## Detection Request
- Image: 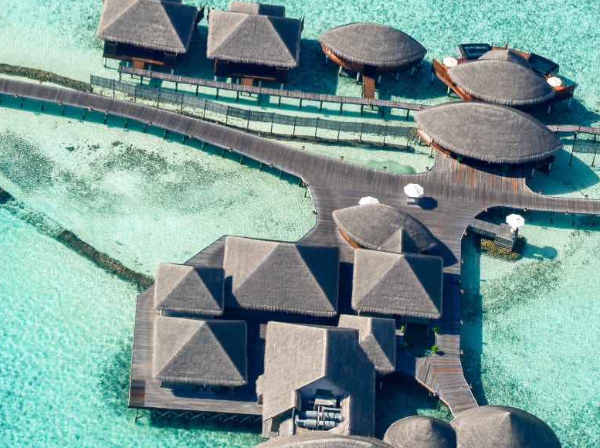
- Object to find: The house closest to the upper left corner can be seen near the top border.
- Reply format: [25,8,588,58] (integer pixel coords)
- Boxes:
[94,0,203,71]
